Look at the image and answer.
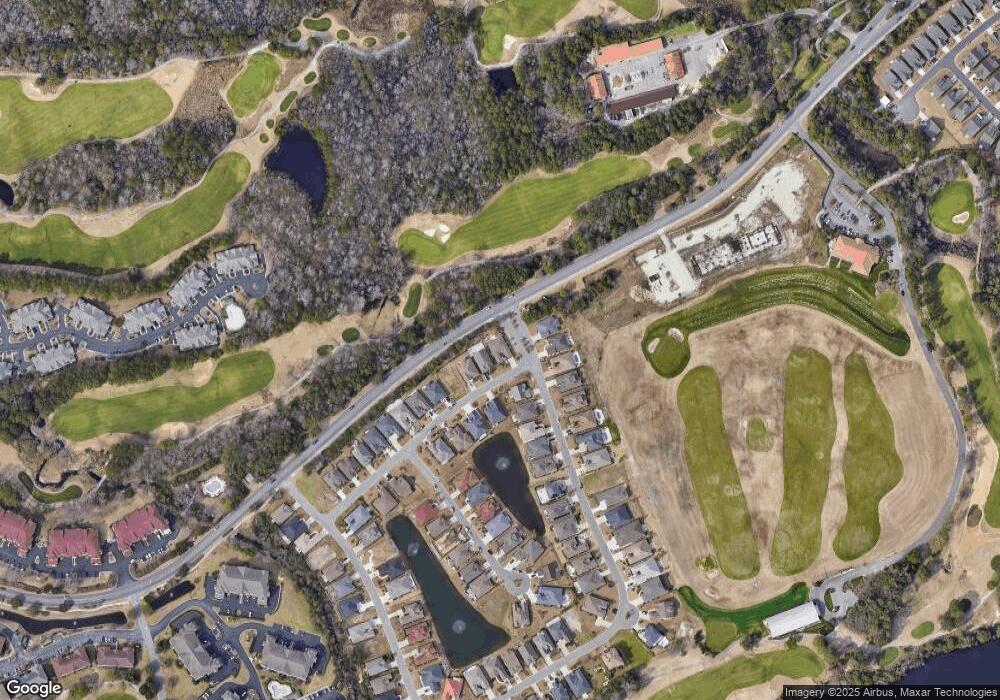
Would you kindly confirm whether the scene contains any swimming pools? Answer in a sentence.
Yes, the image includes a swimming pool.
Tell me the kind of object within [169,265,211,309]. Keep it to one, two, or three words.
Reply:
building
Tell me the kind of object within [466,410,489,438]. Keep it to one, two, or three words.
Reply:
house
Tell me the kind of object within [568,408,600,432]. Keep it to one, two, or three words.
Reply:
house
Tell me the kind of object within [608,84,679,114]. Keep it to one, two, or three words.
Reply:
shed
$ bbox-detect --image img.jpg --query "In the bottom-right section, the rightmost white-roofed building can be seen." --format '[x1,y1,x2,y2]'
[765,601,819,638]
